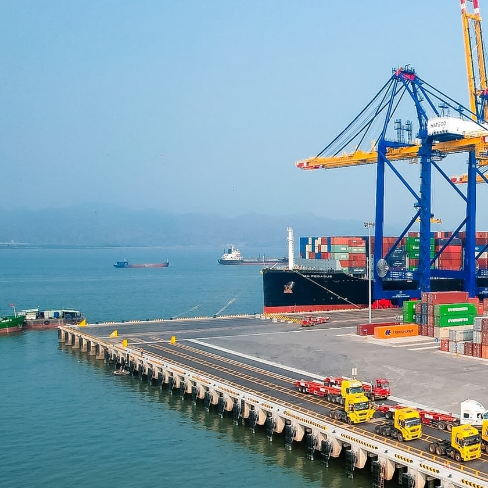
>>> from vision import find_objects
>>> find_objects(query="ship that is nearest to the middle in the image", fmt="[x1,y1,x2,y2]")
[219,245,308,264]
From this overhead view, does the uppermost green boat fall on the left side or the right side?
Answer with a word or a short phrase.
left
